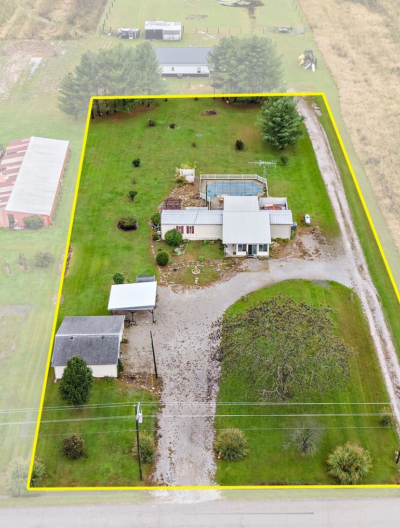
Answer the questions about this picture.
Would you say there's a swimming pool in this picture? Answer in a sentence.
Yes, there's a swimming pool here.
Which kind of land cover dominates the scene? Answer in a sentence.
The bulk of the photo consists of grass.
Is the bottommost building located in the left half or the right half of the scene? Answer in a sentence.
It is on the left.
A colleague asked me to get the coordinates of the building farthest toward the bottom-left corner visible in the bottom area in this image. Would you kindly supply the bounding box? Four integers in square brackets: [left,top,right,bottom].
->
[52,317,124,378]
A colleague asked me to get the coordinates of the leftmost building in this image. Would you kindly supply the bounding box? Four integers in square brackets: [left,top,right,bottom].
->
[0,136,73,227]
